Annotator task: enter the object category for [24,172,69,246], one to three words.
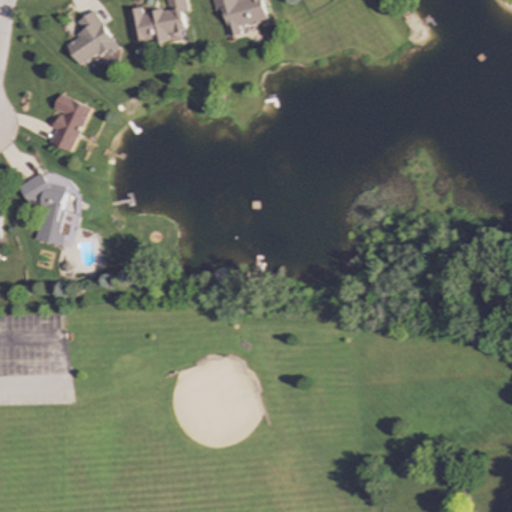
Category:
house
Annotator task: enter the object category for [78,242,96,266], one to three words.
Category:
swimming pool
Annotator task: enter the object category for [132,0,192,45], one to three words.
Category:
house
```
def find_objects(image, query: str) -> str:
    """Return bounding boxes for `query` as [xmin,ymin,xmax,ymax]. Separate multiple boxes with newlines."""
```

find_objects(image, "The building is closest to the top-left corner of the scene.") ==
[68,10,119,66]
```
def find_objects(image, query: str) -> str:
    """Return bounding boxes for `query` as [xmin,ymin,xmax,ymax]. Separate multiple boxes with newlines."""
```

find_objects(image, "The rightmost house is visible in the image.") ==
[214,0,270,37]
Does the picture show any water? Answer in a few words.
Yes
